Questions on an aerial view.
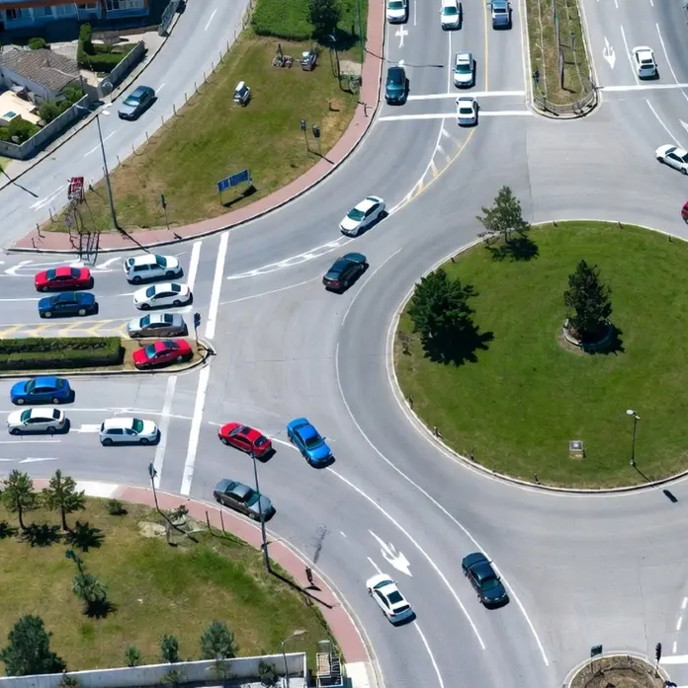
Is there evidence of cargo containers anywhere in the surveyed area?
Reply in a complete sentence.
No, the frame has no cargo container in it.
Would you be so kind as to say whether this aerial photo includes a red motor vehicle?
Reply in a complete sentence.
Yes, this view includes a red motor vehicle.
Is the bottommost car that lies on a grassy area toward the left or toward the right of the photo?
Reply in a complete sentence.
The bottommost car that lies on a grassy area is on the left side of the image.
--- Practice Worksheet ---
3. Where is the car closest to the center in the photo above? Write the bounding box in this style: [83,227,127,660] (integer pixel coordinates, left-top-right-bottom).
[321,252,368,291]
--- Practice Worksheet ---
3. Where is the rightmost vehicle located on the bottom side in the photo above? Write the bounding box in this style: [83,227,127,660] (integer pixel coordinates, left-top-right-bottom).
[459,552,510,605]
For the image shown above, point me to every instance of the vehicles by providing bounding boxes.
[9,410,68,437]
[127,314,188,341]
[284,418,335,466]
[631,46,657,80]
[489,0,510,25]
[338,195,389,235]
[385,0,407,17]
[133,342,192,371]
[365,577,416,624]
[133,284,192,310]
[12,380,72,407]
[452,46,475,85]
[101,419,158,447]
[459,552,510,605]
[656,148,688,176]
[321,252,368,291]
[383,63,407,102]
[38,293,96,320]
[217,424,275,460]
[117,85,158,119]
[438,0,460,25]
[125,254,182,283]
[36,268,93,294]
[455,96,477,127]
[212,477,275,519]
